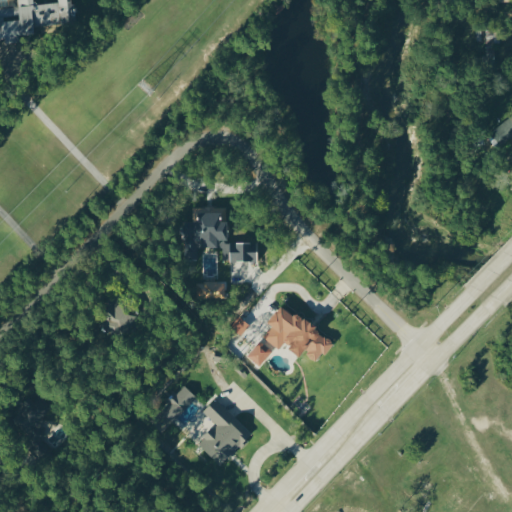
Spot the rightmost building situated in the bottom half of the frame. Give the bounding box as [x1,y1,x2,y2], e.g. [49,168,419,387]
[264,308,333,362]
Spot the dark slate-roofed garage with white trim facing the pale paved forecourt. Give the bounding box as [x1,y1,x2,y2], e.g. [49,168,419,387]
[230,242,258,262]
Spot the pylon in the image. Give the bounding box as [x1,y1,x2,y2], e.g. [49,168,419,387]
[139,79,154,96]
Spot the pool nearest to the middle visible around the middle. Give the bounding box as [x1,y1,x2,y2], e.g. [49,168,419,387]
[202,252,219,278]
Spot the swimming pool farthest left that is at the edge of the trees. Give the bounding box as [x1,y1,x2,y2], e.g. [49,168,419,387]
[50,424,67,446]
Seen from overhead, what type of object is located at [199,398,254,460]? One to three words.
house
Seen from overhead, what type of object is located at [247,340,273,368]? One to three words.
building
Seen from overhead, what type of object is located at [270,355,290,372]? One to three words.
swimming pool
